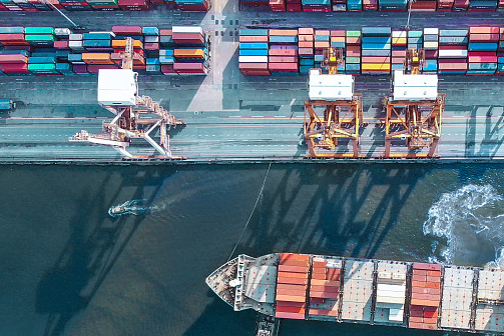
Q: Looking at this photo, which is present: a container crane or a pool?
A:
container crane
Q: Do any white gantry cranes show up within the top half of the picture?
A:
Yes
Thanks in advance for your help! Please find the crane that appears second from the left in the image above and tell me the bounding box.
[302,45,368,156]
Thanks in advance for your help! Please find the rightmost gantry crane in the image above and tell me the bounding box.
[377,45,448,156]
